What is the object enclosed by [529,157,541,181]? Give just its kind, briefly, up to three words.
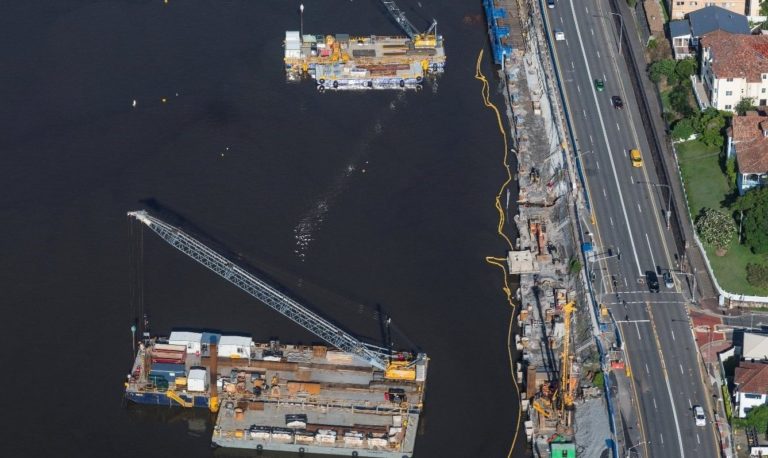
vehicle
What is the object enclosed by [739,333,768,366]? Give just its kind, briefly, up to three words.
building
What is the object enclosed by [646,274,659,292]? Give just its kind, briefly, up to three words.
vehicle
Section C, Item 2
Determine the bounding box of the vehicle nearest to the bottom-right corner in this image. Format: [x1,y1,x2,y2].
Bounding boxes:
[692,408,706,425]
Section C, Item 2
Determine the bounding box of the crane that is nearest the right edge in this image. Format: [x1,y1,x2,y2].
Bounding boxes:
[372,0,443,58]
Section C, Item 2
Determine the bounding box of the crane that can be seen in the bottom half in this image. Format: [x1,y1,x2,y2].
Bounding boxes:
[125,208,428,391]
